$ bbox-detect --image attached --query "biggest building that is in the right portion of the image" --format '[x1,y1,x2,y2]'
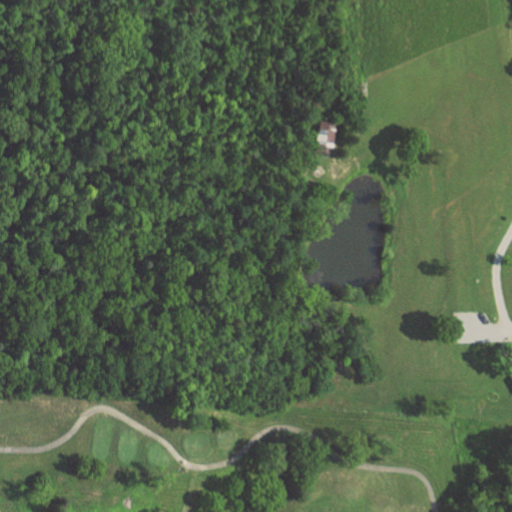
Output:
[318,121,337,153]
